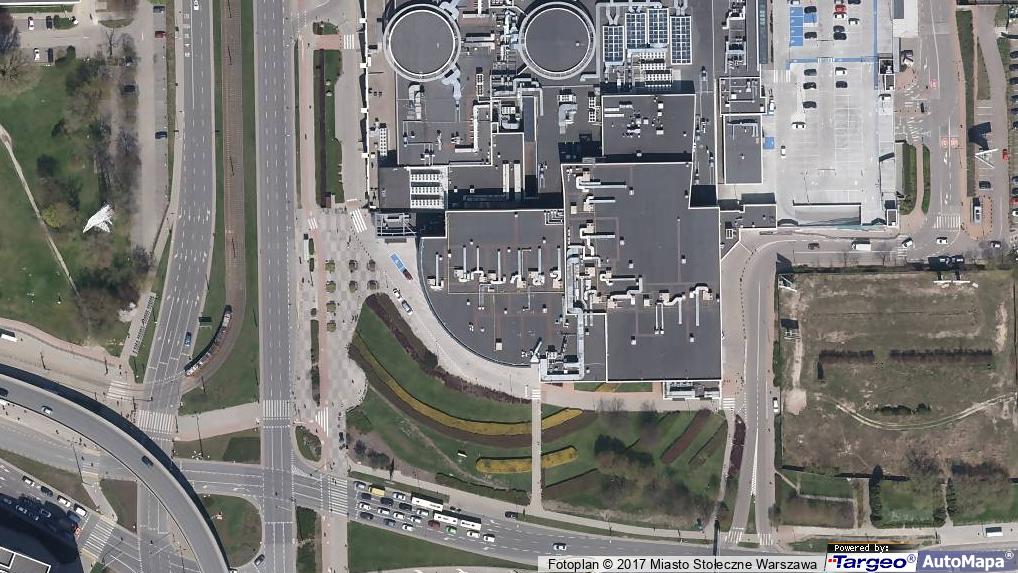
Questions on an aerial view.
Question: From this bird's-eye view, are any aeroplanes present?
Yes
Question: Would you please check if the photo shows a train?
Yes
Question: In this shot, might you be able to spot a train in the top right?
No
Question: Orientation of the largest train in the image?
diagonally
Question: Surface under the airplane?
grass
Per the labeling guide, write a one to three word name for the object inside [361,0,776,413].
building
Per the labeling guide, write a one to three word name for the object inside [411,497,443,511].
vehicle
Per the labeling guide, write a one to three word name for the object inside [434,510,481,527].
vehicle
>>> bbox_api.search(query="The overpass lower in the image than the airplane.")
[0,374,228,573]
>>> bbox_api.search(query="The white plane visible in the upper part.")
[86,204,114,232]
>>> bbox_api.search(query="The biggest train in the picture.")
[188,309,234,373]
